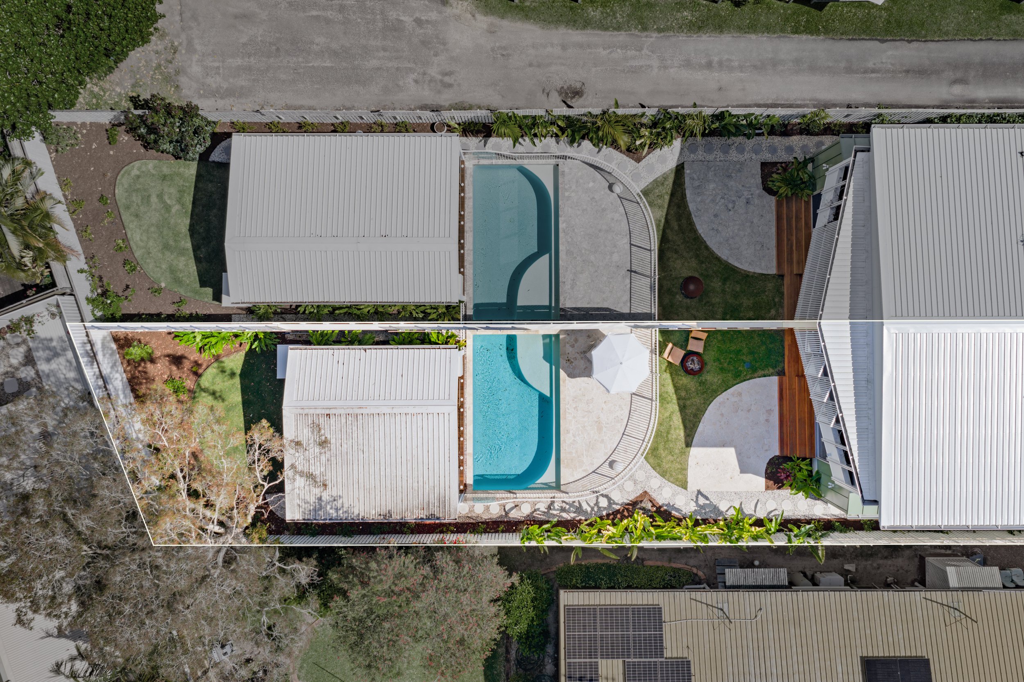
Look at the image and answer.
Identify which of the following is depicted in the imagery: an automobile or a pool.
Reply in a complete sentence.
It is a pool that can be seen here.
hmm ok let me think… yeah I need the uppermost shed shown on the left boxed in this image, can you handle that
[221,129,465,309]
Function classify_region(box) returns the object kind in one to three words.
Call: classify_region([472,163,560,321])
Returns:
swimming pool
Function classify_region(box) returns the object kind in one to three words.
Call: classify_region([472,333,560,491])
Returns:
swimming pool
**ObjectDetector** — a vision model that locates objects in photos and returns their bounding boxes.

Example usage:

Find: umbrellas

[589,332,650,393]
